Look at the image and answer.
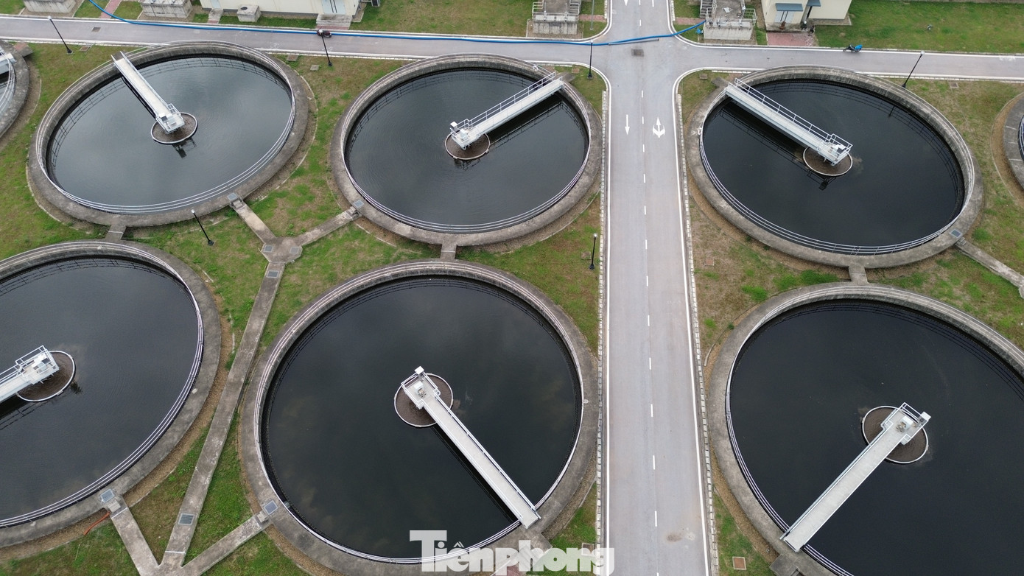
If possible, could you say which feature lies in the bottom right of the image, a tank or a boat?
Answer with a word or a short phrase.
tank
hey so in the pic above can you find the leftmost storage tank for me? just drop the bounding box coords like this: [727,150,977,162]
[0,40,36,138]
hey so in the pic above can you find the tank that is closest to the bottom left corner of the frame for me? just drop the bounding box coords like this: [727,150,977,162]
[0,238,223,546]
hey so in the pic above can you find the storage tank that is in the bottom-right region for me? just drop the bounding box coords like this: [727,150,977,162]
[707,281,1024,576]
